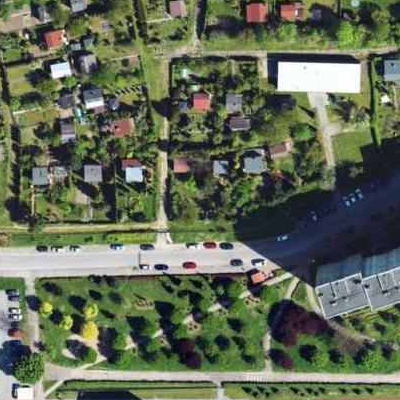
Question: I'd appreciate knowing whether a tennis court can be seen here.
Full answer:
No, this view has no tennis court in it.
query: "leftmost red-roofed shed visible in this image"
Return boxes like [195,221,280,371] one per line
[44,29,66,49]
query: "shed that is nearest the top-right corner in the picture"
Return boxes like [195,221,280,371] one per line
[384,59,400,80]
